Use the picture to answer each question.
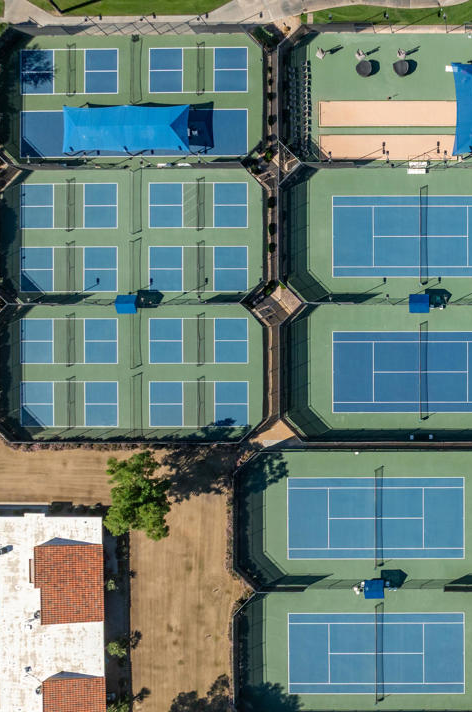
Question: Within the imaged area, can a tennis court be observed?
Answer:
Yes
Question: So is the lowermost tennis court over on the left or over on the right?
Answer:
right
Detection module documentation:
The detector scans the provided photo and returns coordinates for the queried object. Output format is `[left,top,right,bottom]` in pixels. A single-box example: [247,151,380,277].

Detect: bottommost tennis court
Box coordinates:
[240,585,472,712]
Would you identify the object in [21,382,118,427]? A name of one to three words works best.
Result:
sports court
